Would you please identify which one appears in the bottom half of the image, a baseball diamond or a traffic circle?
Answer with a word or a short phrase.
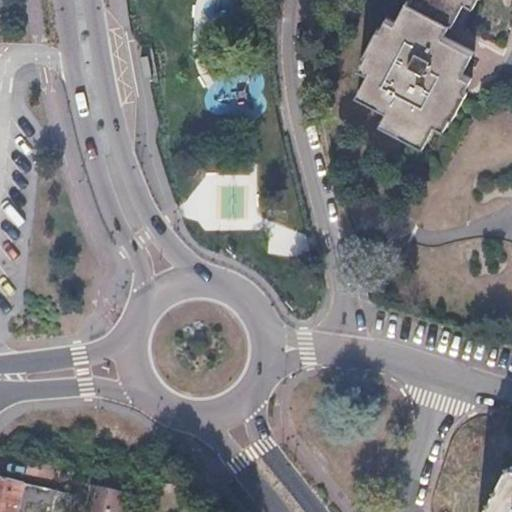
traffic circle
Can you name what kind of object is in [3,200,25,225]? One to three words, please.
vehicle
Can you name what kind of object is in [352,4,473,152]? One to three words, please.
building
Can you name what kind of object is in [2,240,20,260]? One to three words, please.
car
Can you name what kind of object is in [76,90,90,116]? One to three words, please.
vehicle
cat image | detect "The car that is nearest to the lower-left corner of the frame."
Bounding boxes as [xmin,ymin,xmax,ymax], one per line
[6,462,27,474]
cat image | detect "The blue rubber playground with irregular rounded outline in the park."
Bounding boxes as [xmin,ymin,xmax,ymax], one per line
[205,74,268,118]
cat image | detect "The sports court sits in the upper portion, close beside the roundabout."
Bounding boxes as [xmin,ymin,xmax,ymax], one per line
[180,164,264,230]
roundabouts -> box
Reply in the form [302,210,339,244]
[111,261,283,437]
